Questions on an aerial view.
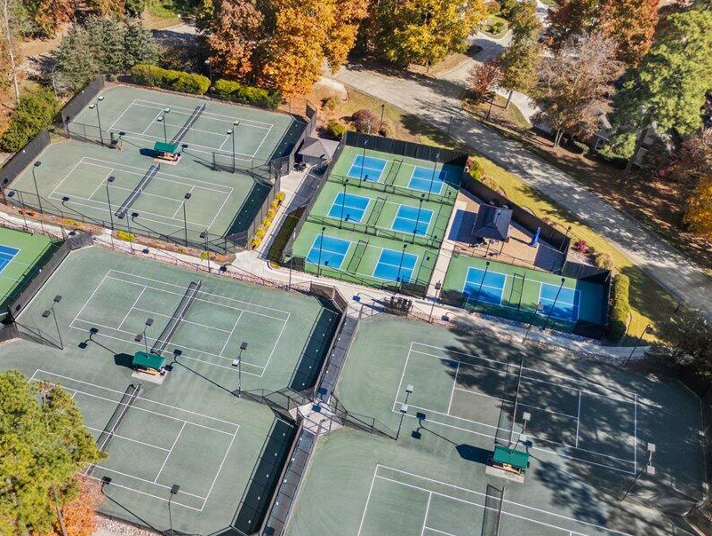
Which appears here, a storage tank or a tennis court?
tennis court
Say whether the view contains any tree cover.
Yes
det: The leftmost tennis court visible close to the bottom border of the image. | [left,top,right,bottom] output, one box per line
[0,323,315,536]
